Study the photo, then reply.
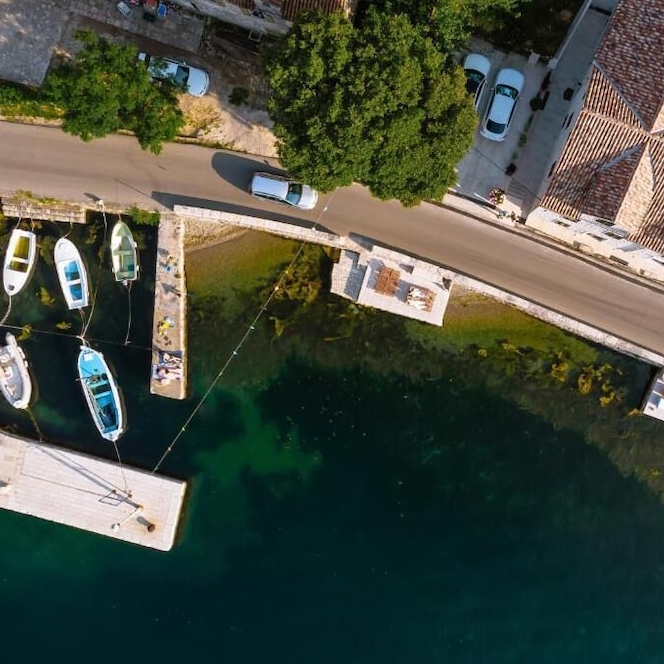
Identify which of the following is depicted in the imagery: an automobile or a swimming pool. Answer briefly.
automobile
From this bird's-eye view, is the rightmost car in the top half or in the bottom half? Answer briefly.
top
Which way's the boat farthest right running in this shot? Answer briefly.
up and down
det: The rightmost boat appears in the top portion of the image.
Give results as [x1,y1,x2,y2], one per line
[109,220,144,287]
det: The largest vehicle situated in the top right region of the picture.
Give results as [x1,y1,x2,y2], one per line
[482,64,523,140]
